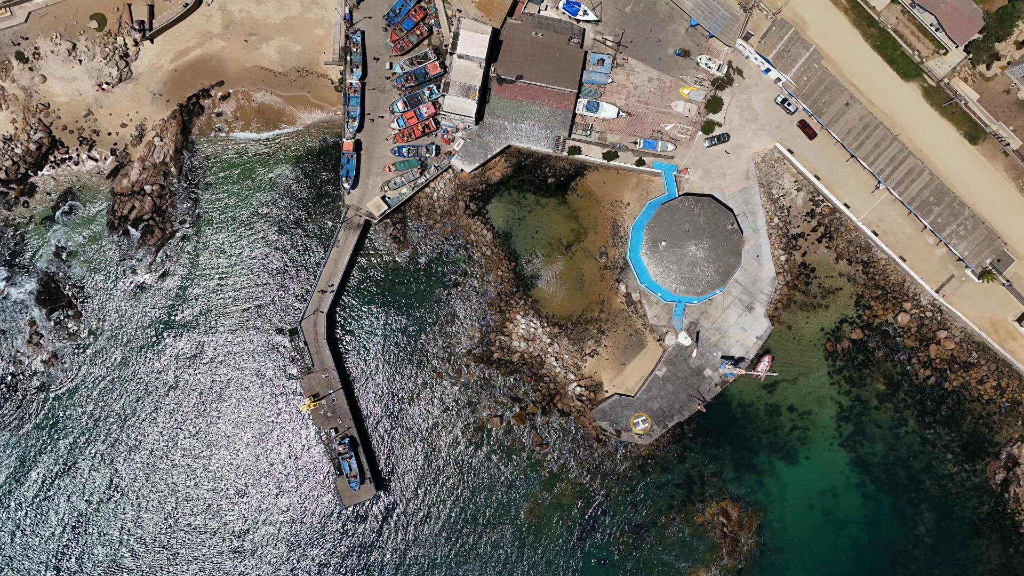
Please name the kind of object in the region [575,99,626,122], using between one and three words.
boat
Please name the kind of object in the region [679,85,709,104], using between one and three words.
boat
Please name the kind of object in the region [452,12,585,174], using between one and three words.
building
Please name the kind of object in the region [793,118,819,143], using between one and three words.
car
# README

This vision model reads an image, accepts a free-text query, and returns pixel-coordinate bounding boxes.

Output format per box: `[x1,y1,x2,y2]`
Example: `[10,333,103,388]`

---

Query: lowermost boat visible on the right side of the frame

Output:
[752,354,772,381]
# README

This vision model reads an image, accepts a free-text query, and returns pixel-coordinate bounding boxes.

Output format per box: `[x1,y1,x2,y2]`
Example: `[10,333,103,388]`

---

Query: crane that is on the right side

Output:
[715,360,778,378]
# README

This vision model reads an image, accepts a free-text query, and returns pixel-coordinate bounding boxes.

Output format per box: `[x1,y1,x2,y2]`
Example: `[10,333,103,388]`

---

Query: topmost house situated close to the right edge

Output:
[904,0,986,48]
